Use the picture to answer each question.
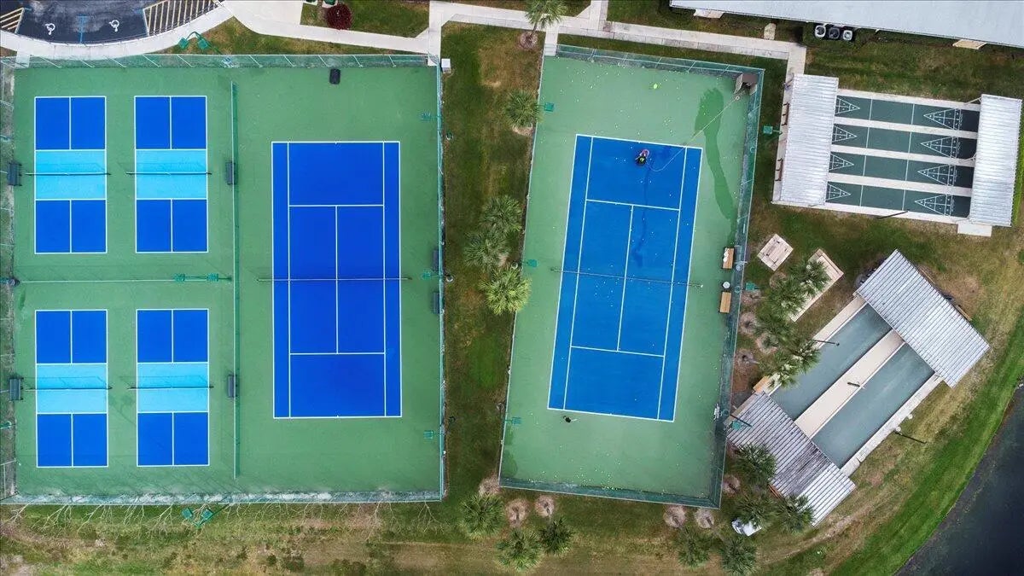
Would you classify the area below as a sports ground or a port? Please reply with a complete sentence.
It's a sports ground.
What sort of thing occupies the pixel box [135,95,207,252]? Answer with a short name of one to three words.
sports court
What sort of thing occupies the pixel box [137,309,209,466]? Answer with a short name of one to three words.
sports court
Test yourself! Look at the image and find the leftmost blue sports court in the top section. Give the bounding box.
[34,96,107,253]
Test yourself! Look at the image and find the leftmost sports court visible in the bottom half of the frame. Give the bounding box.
[35,310,108,467]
